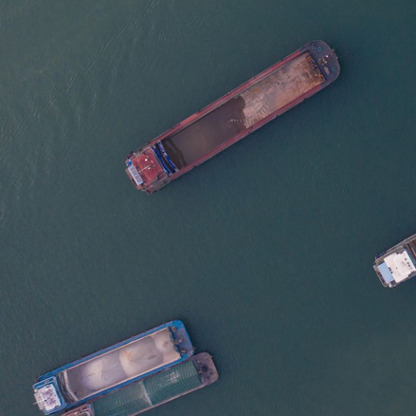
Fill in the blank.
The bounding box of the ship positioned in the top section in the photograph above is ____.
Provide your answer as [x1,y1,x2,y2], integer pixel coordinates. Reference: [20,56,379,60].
[126,41,340,194]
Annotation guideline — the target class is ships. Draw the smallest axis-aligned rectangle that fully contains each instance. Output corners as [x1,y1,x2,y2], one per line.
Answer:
[31,319,198,416]
[373,236,416,288]
[58,351,220,416]
[126,41,340,194]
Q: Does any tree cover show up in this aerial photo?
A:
No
